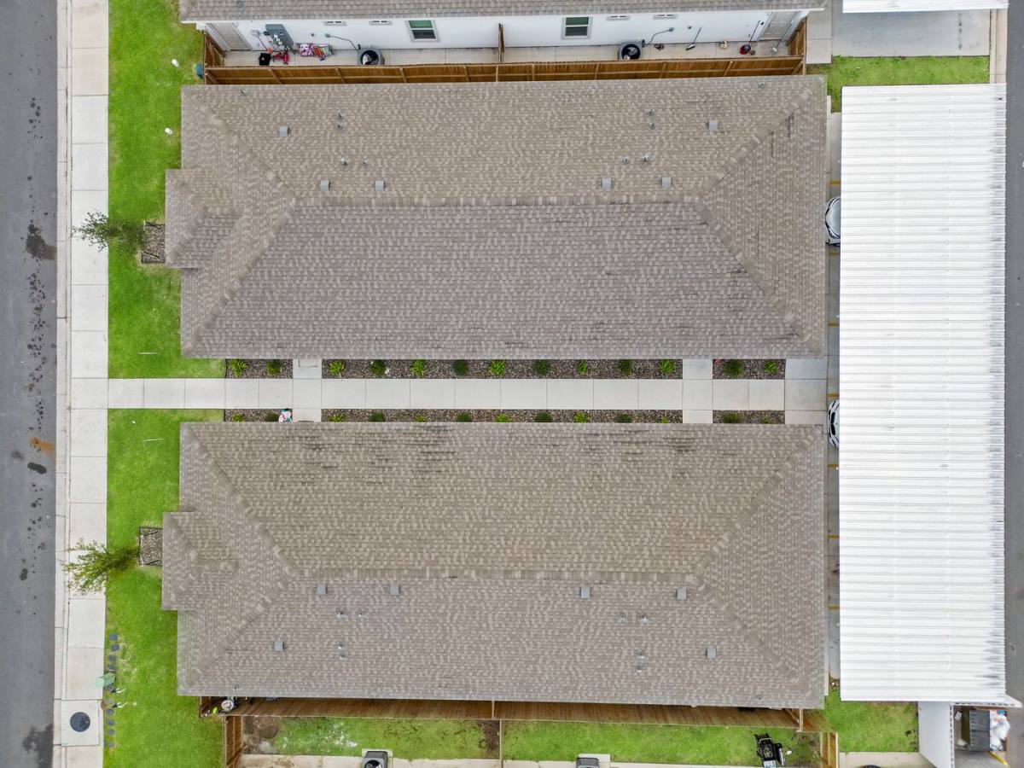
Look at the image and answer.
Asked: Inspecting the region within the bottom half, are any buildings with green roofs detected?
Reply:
No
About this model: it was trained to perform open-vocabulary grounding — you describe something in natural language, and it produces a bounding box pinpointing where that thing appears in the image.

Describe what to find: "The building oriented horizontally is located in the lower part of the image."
[162,422,823,708]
